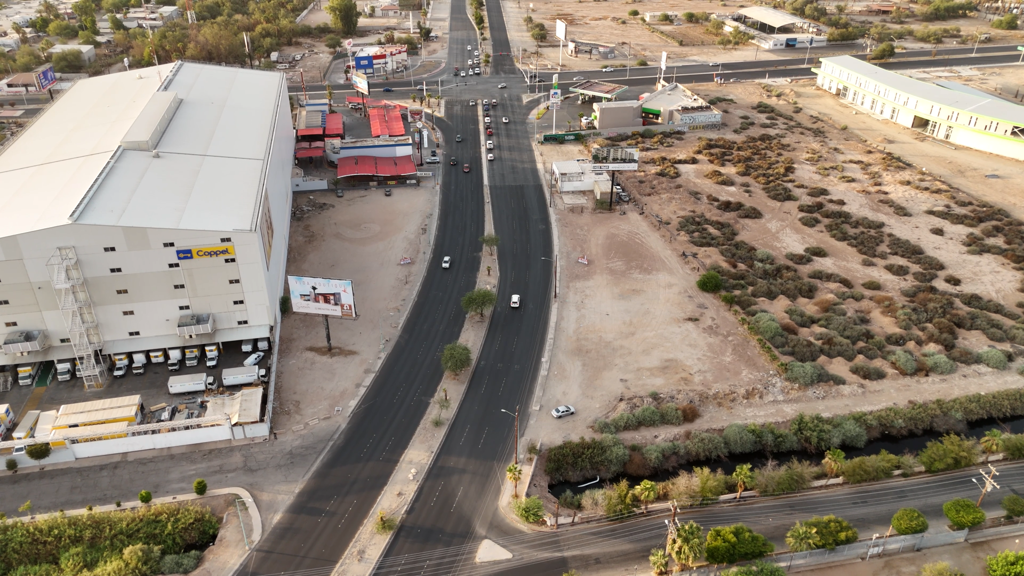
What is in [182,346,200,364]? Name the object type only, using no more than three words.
vehicle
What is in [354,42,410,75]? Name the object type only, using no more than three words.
building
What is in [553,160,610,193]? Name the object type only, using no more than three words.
house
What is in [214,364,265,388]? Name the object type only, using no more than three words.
truck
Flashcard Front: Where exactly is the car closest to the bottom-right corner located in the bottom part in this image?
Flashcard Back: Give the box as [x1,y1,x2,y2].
[551,403,576,417]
